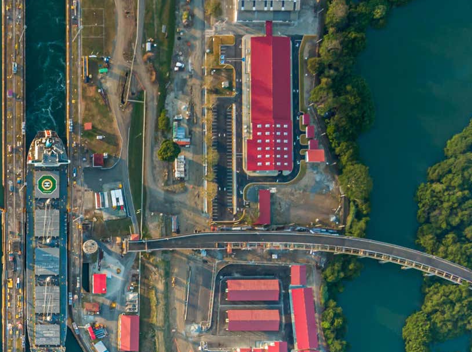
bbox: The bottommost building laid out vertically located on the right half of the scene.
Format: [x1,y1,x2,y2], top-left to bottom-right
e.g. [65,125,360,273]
[288,288,319,350]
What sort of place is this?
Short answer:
port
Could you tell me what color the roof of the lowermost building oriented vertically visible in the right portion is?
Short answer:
red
